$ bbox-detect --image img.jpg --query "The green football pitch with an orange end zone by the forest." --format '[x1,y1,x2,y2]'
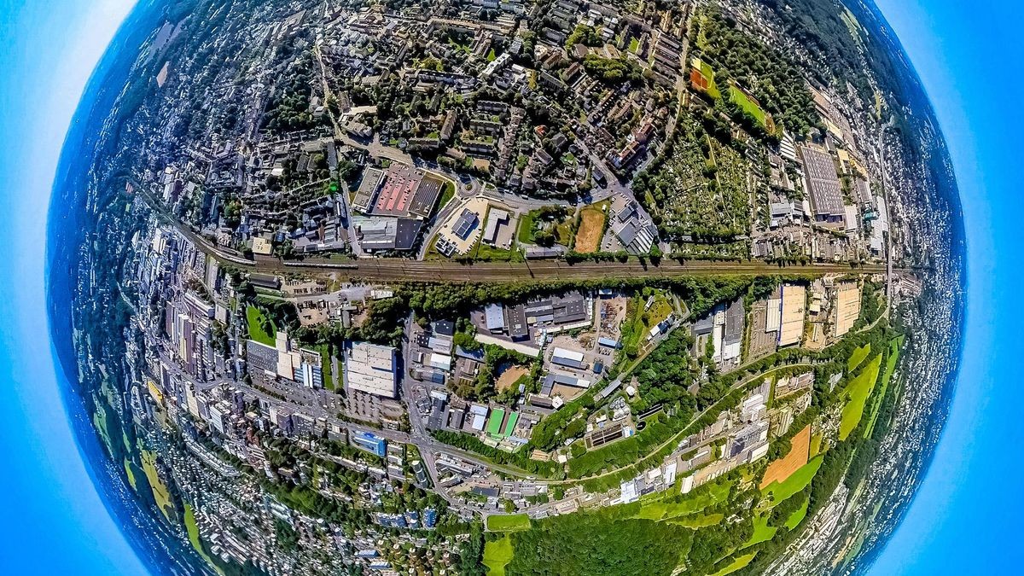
[727,82,776,132]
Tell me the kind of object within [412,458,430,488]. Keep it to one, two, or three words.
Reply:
building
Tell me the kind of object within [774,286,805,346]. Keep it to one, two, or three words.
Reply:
building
